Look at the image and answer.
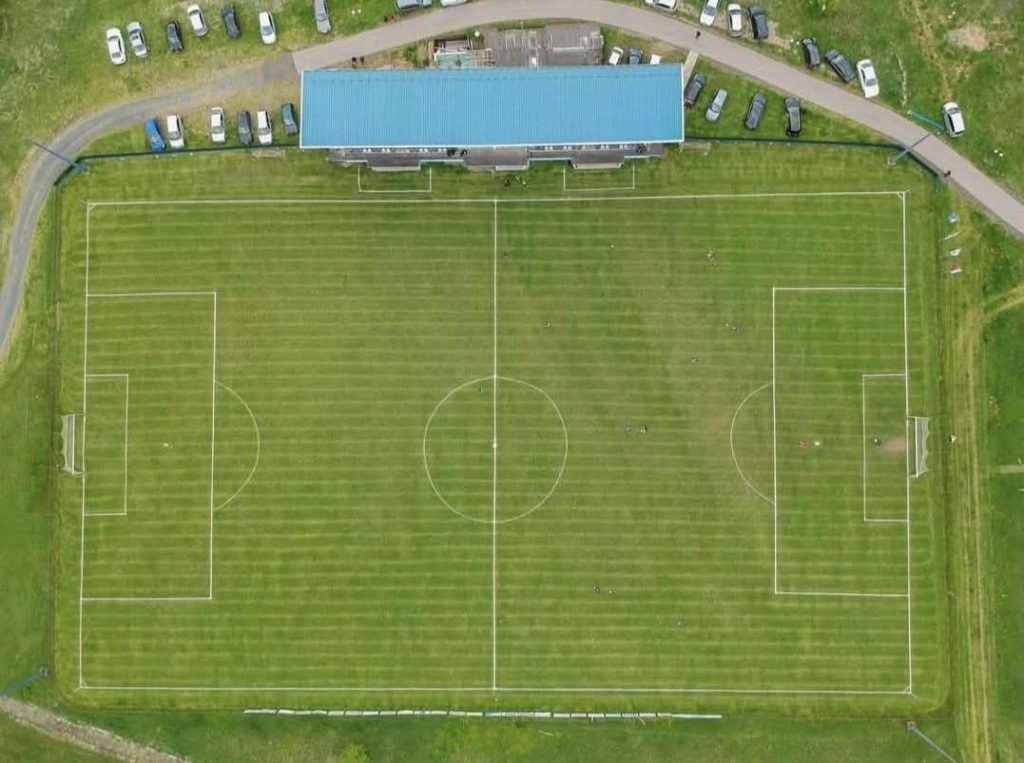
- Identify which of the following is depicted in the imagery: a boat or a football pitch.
football pitch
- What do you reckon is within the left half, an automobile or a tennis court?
automobile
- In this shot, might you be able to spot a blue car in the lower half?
No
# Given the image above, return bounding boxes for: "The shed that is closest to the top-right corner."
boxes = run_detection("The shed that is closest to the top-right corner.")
[545,26,603,67]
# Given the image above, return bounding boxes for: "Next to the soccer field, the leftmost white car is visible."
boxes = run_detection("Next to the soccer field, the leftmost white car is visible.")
[164,113,187,149]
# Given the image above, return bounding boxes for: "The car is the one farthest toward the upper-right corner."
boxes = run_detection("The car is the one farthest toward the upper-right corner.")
[941,101,967,139]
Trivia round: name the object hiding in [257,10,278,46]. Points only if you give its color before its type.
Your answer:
white car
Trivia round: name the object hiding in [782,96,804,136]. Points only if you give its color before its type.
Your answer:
gray car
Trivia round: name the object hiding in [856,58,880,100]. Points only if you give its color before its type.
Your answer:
white car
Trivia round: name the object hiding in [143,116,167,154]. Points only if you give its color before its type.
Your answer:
blue car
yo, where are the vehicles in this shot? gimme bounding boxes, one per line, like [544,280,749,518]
[941,101,967,139]
[856,58,880,100]
[641,0,679,15]
[312,0,333,35]
[647,54,662,65]
[699,0,722,28]
[705,87,731,124]
[627,47,644,66]
[256,110,274,145]
[396,0,434,14]
[748,5,769,41]
[165,20,185,54]
[223,5,242,40]
[742,91,767,131]
[725,3,744,39]
[106,28,128,66]
[189,4,209,38]
[164,113,187,149]
[825,48,856,85]
[605,45,625,66]
[782,96,804,136]
[257,10,278,46]
[143,116,167,154]
[127,20,151,60]
[281,103,300,136]
[802,38,821,69]
[209,107,228,144]
[685,73,706,110]
[236,110,255,146]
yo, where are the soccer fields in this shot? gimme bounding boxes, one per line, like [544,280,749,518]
[58,147,946,714]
